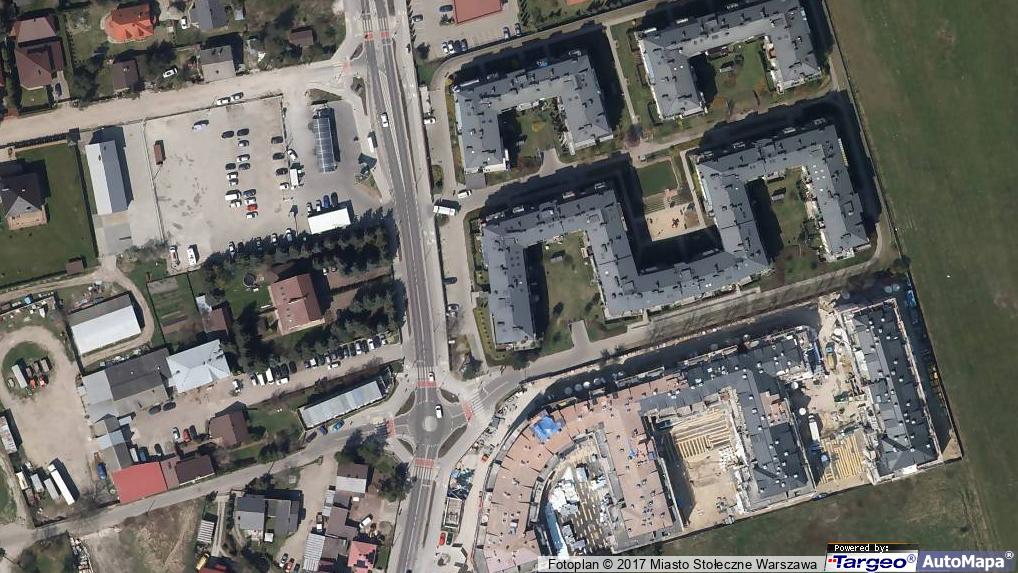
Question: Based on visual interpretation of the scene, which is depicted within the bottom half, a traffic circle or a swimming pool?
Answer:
traffic circle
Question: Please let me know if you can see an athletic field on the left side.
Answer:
No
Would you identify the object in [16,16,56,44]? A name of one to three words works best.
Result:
house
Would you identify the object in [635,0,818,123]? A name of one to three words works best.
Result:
building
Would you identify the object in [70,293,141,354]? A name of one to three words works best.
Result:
barn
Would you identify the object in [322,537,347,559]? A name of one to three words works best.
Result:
shed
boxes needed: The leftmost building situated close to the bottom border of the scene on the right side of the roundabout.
[476,366,687,573]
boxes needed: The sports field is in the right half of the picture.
[636,159,677,198]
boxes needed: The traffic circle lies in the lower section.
[404,395,456,448]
